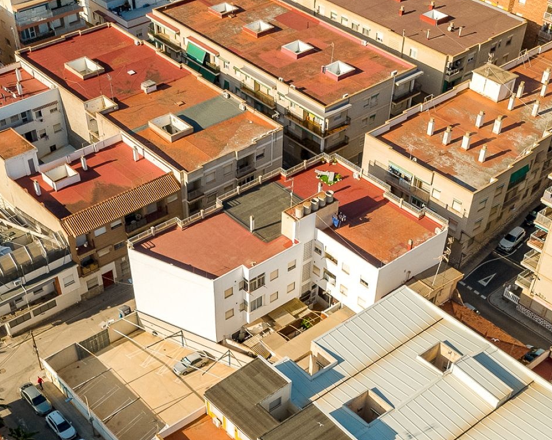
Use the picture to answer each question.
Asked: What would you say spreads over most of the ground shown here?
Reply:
buildings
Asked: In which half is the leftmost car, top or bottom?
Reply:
bottom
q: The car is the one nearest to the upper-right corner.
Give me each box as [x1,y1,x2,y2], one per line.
[521,202,550,228]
